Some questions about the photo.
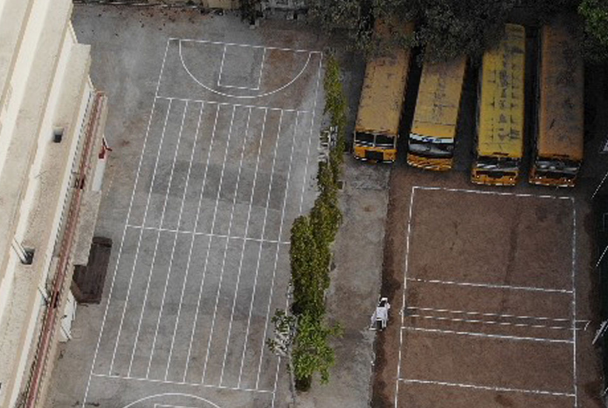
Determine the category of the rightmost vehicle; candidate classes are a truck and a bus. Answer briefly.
bus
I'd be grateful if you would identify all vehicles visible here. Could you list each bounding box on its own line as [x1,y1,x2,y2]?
[471,26,526,193]
[527,27,585,196]
[373,293,392,332]
[350,1,418,166]
[404,5,463,174]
